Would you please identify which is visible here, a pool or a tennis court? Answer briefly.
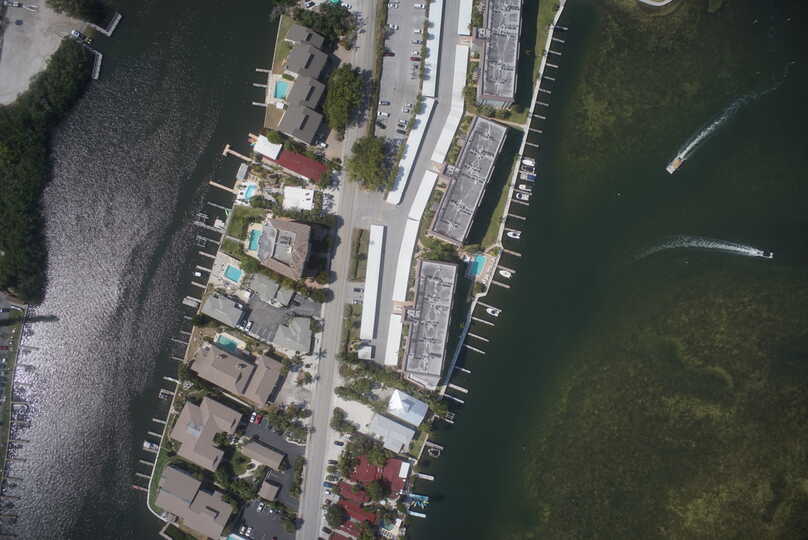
pool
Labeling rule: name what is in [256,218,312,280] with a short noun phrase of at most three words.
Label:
house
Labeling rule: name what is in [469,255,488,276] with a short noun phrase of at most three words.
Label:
swimming pool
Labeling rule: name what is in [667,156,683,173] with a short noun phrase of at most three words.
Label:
boat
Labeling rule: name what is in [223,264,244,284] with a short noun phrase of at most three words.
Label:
swimming pool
